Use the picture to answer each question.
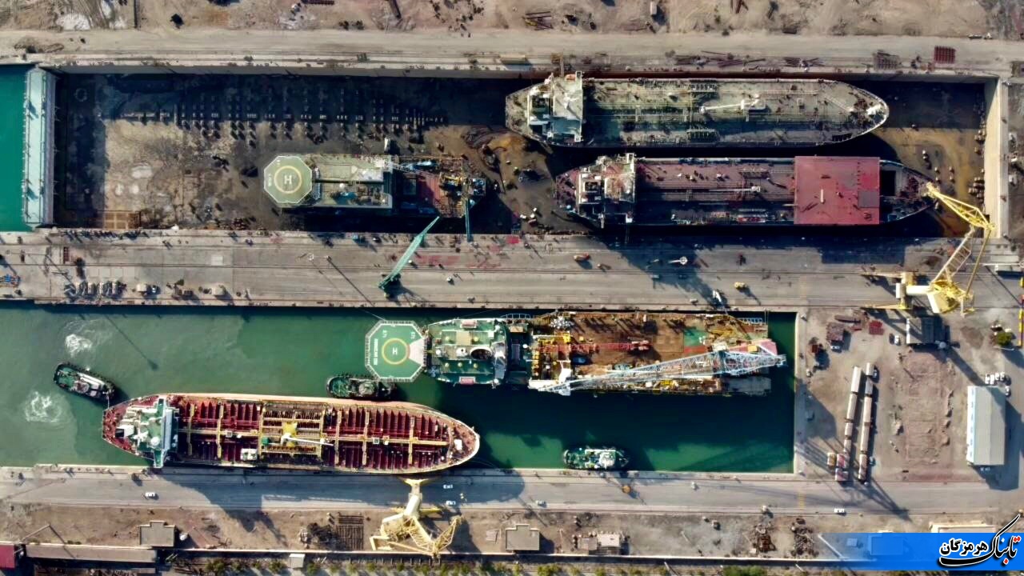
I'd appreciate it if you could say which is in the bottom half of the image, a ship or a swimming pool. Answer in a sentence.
Visible in the bottom half of the image is a ship.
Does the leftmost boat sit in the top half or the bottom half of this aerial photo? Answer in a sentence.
You can find the leftmost boat in the bottom half.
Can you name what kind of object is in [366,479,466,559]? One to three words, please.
crane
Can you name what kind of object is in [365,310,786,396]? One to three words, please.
ship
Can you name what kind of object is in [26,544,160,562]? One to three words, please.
shed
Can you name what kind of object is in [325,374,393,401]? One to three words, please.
boat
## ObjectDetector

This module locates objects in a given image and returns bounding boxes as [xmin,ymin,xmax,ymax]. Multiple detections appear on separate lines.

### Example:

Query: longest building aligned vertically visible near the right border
[967,387,1005,467]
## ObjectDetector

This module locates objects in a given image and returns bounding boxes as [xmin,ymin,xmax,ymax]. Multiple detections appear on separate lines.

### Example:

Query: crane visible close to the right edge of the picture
[864,181,997,323]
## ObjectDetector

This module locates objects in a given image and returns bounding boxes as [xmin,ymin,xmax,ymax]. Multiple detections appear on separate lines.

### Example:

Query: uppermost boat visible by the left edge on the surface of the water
[50,363,113,402]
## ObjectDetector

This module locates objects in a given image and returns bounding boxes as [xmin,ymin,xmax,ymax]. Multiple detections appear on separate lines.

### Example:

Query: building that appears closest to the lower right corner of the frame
[925,521,994,534]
